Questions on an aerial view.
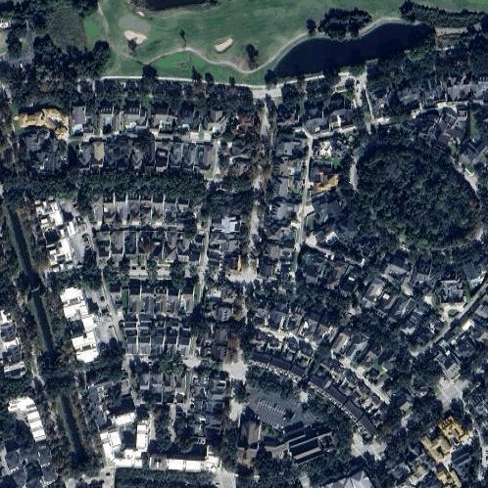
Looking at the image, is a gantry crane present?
No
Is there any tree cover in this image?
Yes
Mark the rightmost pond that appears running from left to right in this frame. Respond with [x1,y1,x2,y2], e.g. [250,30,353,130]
[273,23,432,73]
